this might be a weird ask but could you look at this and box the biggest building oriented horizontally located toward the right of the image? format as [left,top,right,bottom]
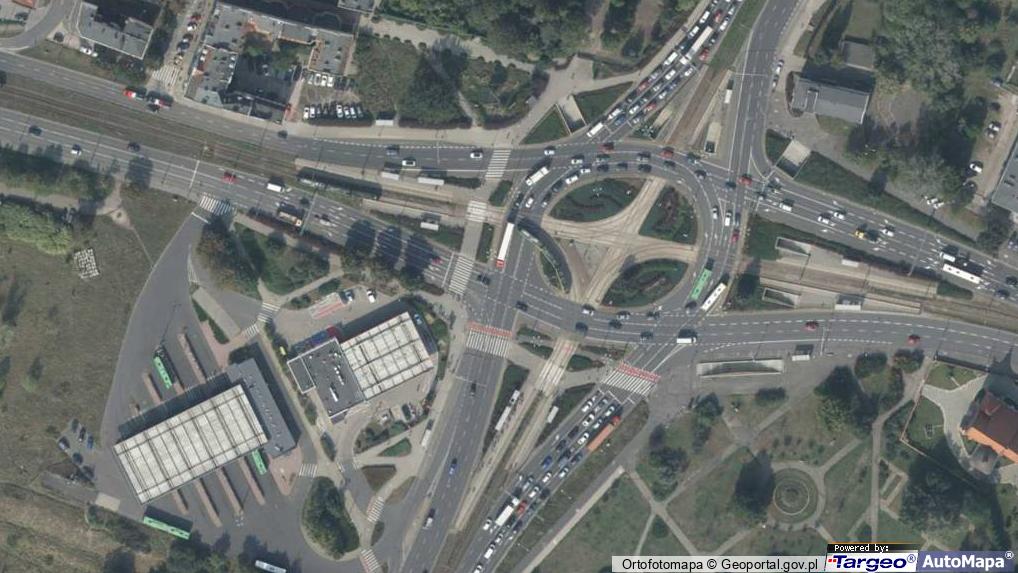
[793,75,871,123]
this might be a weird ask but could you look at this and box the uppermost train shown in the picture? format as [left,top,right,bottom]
[297,176,372,199]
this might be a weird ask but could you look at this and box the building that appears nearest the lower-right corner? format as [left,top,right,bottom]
[970,390,1018,469]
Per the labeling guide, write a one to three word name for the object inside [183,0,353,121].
building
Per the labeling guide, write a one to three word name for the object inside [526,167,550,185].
vehicle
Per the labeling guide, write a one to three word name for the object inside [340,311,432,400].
building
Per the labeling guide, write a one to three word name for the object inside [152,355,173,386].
bus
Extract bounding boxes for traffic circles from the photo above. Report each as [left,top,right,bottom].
[502,146,741,341]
